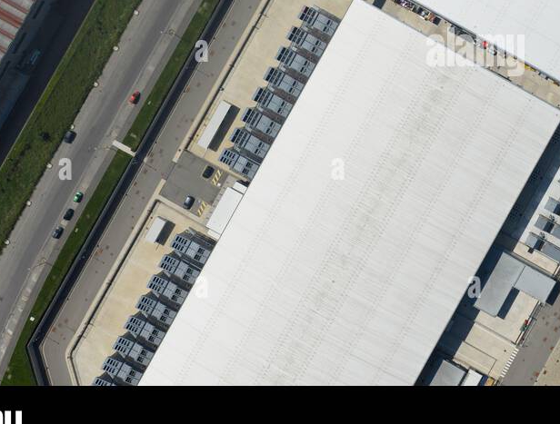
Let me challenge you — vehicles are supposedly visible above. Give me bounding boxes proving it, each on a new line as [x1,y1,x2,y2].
[73,191,83,203]
[65,129,75,143]
[64,208,74,221]
[53,226,64,239]
[184,195,195,209]
[130,91,141,104]
[203,165,215,178]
